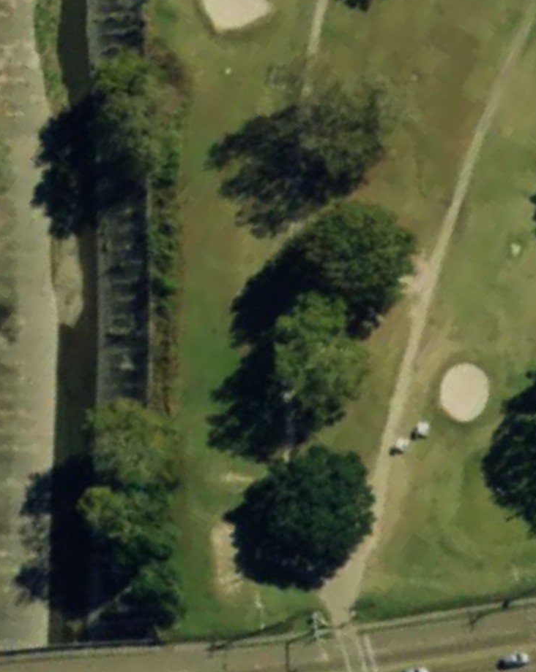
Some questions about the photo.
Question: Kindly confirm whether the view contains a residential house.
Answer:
No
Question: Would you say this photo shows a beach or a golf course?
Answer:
golf course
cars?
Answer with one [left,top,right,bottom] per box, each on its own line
[397,666,429,672]
[497,653,533,670]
